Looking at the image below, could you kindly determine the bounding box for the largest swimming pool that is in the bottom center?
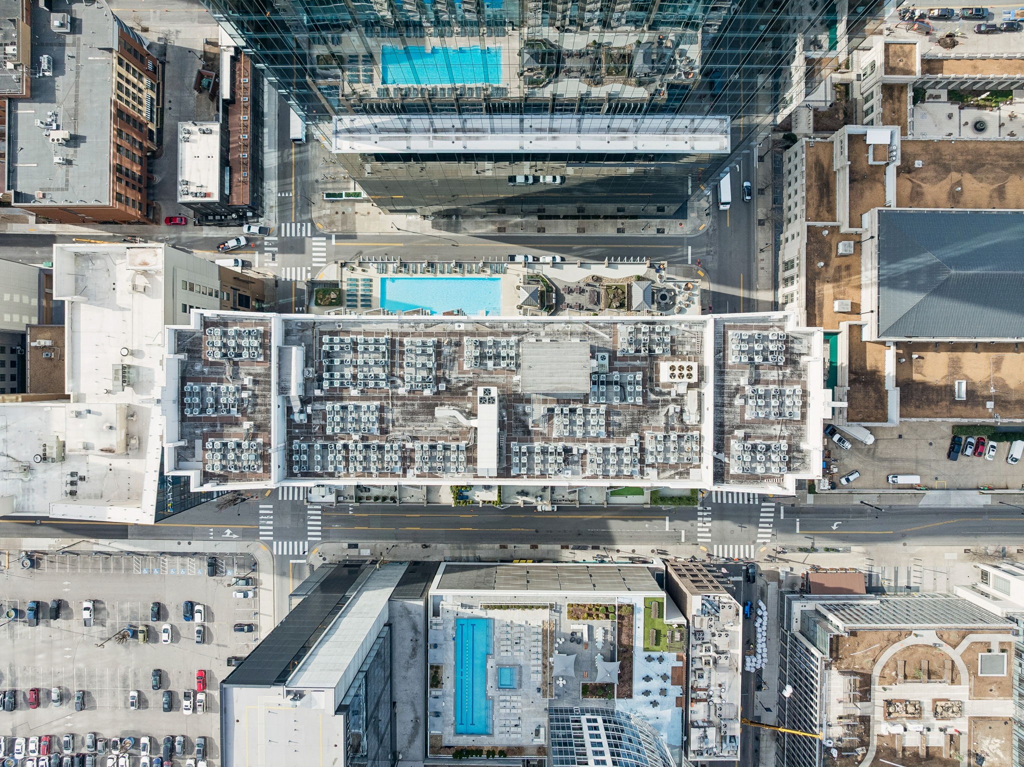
[455,617,494,736]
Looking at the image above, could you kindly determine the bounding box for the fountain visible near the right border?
[969,116,990,136]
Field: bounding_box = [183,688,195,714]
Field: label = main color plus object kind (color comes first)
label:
white vehicle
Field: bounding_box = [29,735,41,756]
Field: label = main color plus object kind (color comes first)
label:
white vehicle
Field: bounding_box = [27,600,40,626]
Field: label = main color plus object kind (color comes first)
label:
blue vehicle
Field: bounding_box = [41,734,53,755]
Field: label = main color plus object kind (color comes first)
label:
red vehicle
